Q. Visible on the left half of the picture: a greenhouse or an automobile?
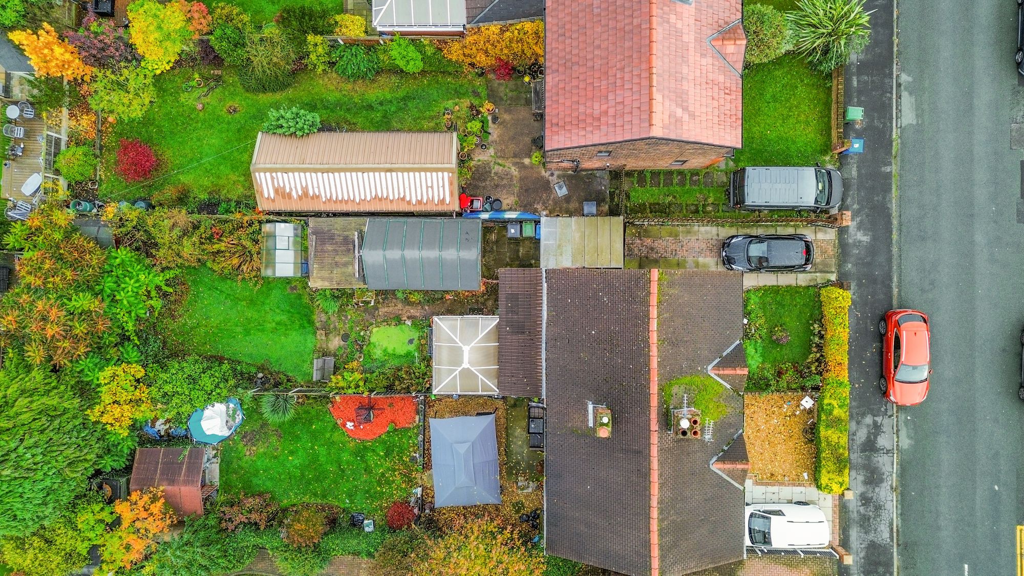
greenhouse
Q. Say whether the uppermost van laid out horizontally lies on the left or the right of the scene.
right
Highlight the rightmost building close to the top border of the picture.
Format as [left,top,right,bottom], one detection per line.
[542,0,750,175]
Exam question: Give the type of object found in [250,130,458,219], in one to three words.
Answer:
building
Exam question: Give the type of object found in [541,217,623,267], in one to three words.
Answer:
building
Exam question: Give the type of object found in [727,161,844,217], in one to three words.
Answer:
van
